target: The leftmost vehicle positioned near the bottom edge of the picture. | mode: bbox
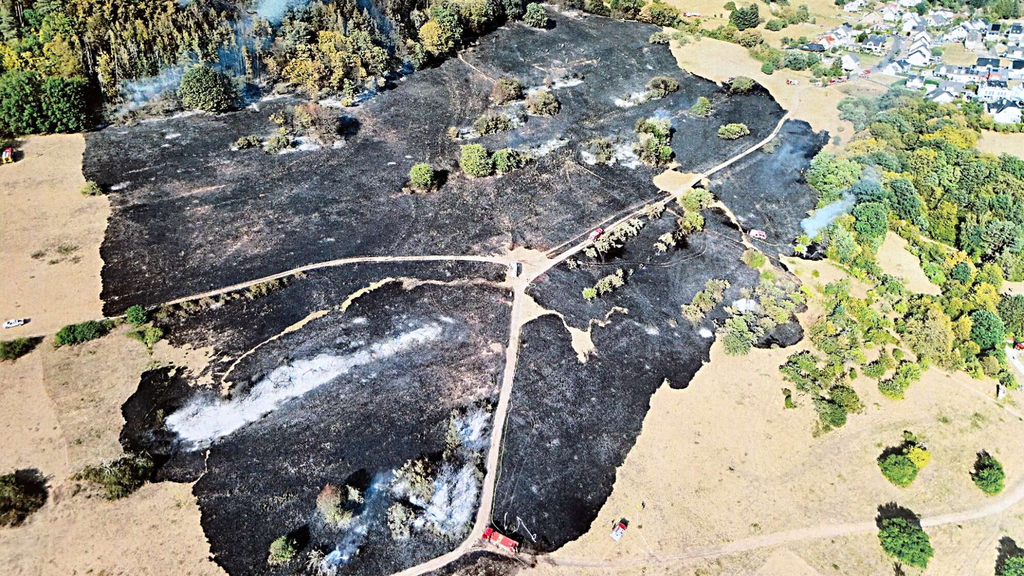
[483,528,519,555]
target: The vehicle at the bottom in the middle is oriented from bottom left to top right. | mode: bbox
[610,519,629,540]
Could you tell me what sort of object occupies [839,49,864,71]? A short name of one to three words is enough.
house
